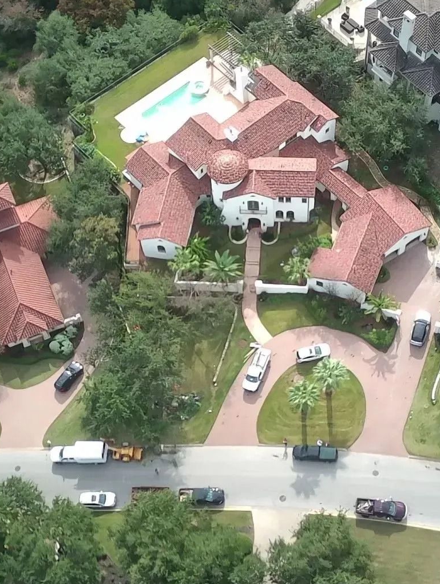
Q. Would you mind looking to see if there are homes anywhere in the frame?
Yes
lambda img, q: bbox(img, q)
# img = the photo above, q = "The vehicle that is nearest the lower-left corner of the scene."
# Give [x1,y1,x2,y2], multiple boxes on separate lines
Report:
[78,491,117,509]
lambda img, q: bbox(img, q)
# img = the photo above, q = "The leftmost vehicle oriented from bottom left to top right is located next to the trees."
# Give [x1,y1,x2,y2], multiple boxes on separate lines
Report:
[54,361,84,393]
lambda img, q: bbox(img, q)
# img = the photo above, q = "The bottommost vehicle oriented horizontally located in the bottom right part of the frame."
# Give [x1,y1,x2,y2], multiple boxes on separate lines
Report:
[355,497,408,521]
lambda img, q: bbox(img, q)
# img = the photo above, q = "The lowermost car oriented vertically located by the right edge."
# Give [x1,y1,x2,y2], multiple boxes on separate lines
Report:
[409,309,431,348]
